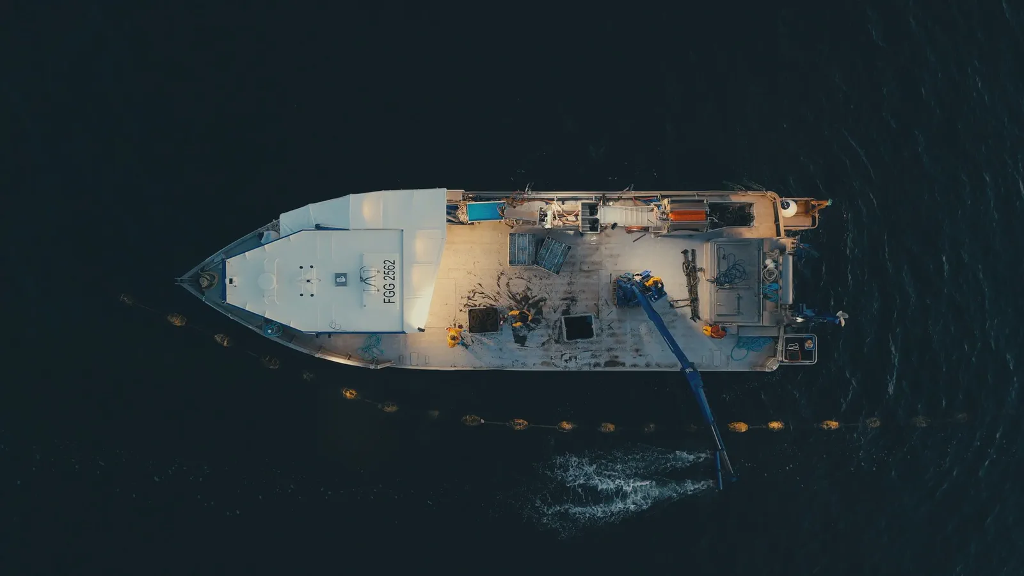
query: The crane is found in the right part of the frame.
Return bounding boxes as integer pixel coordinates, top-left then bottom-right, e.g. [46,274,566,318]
[610,270,738,494]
